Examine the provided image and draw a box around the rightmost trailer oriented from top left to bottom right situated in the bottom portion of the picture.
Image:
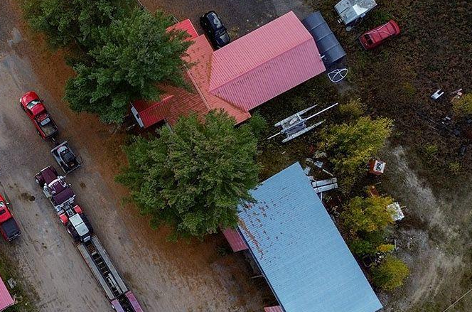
[69,211,144,312]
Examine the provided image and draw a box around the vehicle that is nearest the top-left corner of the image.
[20,91,59,139]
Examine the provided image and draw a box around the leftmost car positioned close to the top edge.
[200,8,232,48]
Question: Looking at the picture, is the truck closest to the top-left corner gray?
No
